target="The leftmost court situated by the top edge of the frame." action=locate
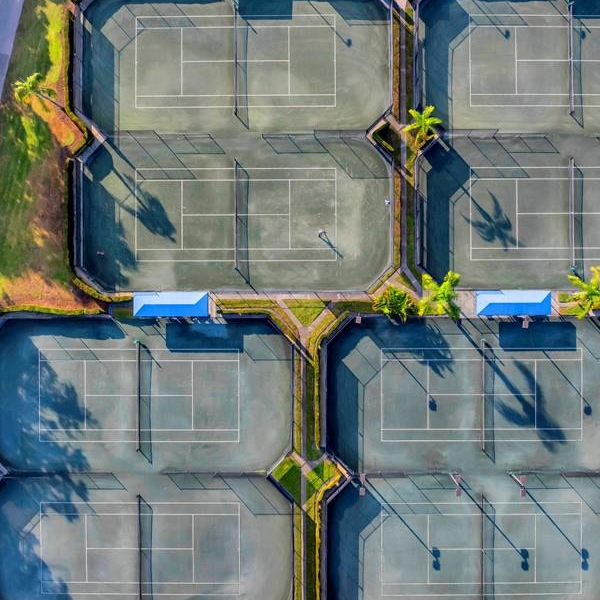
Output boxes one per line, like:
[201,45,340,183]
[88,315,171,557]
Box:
[82,0,390,136]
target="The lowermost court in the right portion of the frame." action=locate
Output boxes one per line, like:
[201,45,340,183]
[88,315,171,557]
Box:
[326,473,600,600]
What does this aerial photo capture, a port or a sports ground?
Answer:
sports ground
